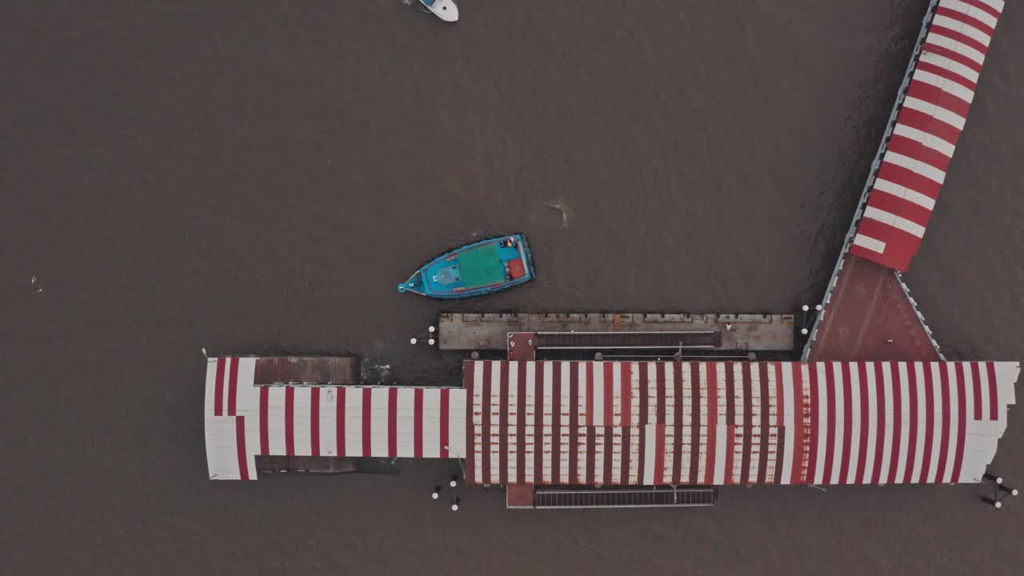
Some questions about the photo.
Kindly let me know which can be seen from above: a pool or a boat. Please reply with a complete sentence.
It is a boat that can be seen here.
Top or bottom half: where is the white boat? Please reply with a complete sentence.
The top half of the photo is where the white boat is.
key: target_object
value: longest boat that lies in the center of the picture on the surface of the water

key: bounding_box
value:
[398,233,536,301]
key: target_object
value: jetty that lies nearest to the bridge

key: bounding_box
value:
[438,311,794,350]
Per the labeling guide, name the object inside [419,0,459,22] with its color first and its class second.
white boat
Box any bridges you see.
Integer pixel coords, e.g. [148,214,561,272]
[794,0,967,362]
